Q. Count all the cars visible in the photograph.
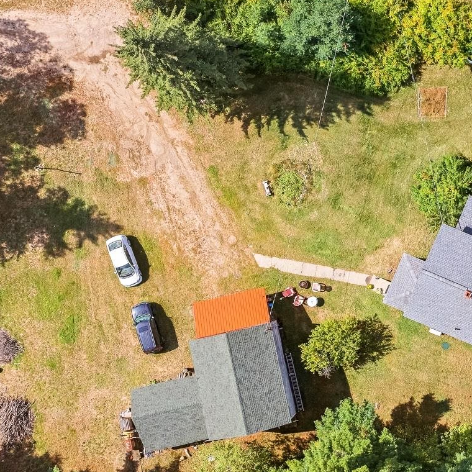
2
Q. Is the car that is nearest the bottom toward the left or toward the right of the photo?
left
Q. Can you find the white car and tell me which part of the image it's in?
left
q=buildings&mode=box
[382,194,472,342]
[132,288,298,451]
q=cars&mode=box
[107,235,143,288]
[134,299,168,353]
